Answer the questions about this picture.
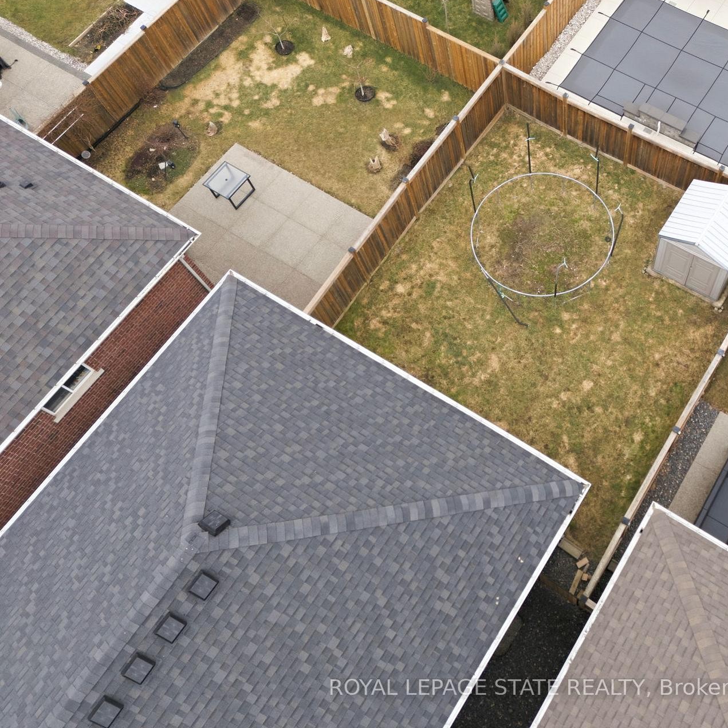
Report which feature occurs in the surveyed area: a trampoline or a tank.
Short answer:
trampoline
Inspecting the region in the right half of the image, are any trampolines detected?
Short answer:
Yes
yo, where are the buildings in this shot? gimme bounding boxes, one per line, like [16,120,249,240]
[529,501,728,728]
[654,178,728,301]
[0,271,588,728]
